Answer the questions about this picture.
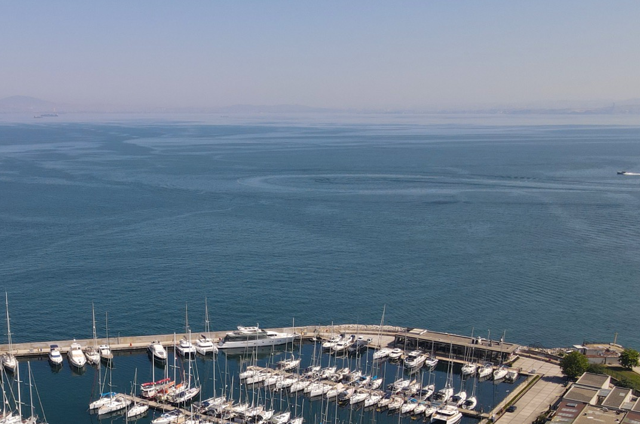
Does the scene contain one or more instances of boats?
Yes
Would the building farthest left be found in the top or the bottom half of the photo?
bottom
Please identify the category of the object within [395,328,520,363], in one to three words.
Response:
building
